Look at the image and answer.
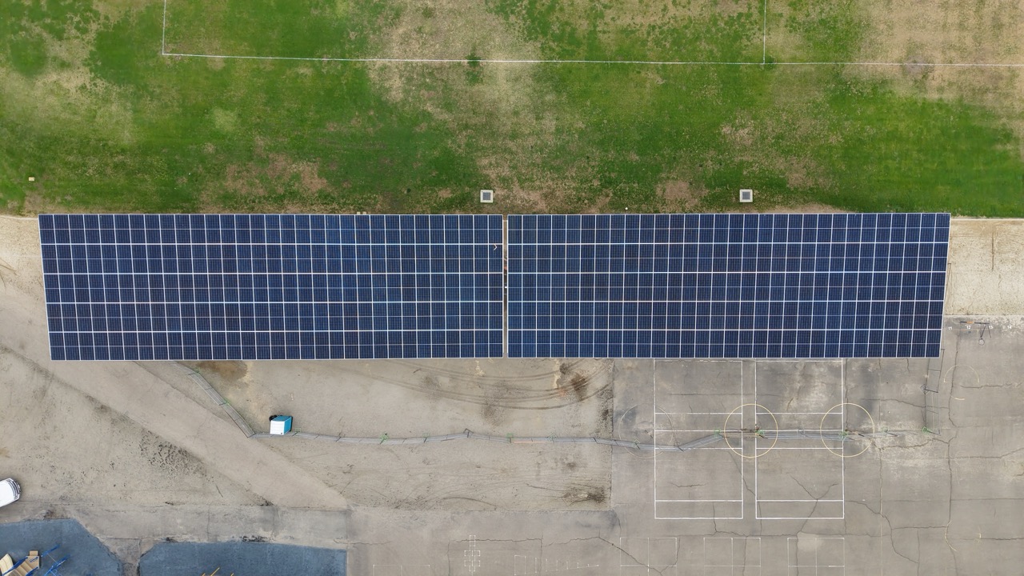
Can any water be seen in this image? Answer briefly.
No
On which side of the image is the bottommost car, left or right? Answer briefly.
left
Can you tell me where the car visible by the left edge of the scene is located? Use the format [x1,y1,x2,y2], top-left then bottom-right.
[0,483,21,512]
